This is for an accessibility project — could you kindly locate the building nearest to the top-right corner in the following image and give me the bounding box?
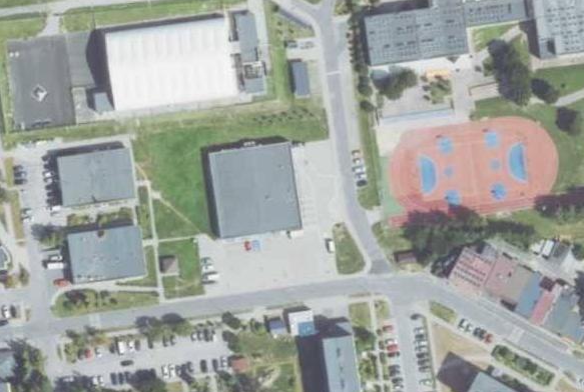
[533,0,584,61]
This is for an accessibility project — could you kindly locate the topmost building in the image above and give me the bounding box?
[467,0,527,28]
